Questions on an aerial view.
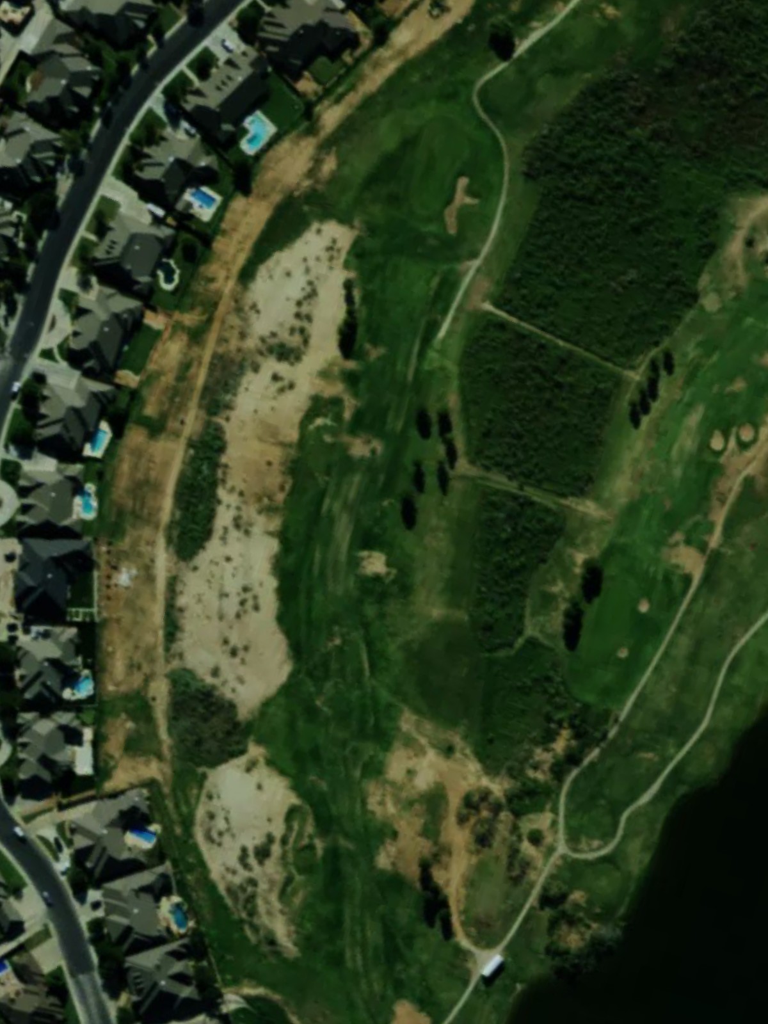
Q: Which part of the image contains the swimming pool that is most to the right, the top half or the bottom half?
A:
top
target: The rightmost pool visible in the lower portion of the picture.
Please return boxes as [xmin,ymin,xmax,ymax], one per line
[163,894,196,932]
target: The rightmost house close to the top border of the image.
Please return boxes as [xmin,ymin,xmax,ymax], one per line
[250,0,364,79]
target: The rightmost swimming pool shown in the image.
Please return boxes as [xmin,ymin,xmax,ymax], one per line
[239,110,277,156]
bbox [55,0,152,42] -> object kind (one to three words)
house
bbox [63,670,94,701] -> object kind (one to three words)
swimming pool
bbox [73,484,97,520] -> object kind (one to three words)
swimming pool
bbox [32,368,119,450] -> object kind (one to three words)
house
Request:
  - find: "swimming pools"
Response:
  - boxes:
[187,186,223,216]
[157,258,180,290]
[73,484,97,520]
[0,960,10,973]
[63,670,94,701]
[239,110,277,156]
[82,420,111,459]
[163,894,196,932]
[129,823,161,847]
